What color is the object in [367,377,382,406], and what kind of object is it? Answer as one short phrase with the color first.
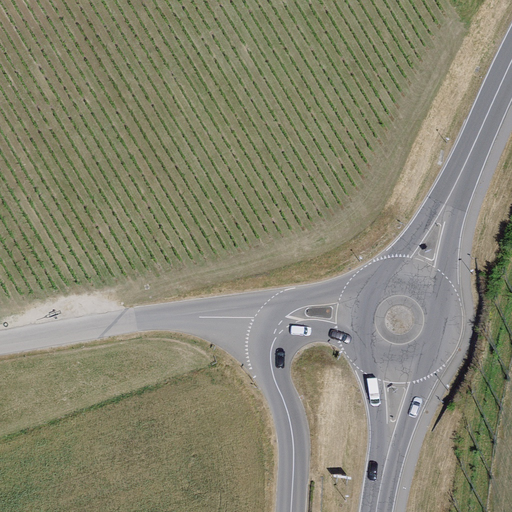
white vehicle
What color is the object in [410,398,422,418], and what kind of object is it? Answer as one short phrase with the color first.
white vehicle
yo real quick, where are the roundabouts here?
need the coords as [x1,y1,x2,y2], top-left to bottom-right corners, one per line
[338,258,462,382]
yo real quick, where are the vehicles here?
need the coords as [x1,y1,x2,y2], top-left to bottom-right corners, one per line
[290,326,312,336]
[367,377,382,406]
[275,348,286,368]
[410,398,422,418]
[329,330,352,344]
[368,460,378,480]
